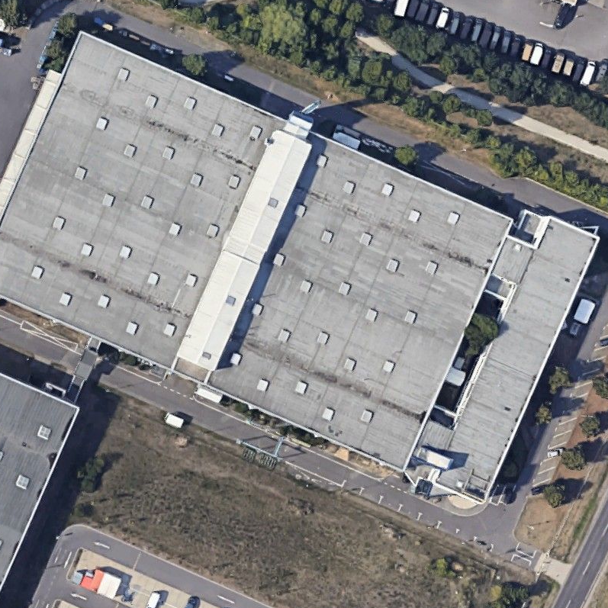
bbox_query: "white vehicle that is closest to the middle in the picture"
[163,414,186,428]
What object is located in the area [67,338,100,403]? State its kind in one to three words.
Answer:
bridge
